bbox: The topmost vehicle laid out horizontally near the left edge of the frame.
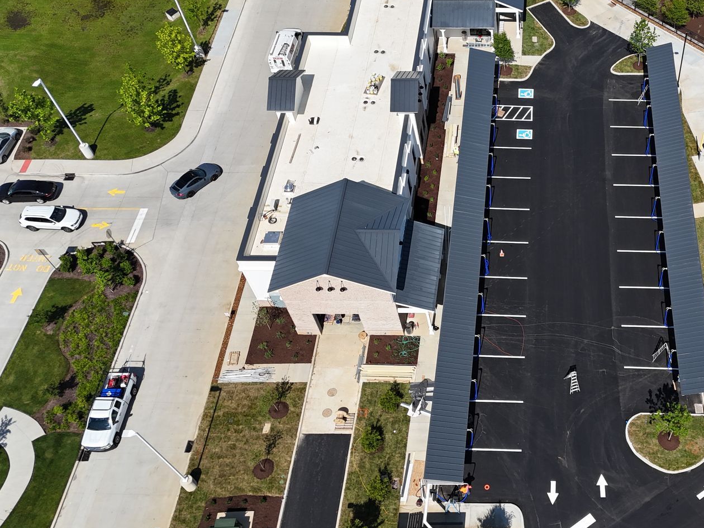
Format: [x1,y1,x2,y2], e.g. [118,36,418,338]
[0,178,60,205]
